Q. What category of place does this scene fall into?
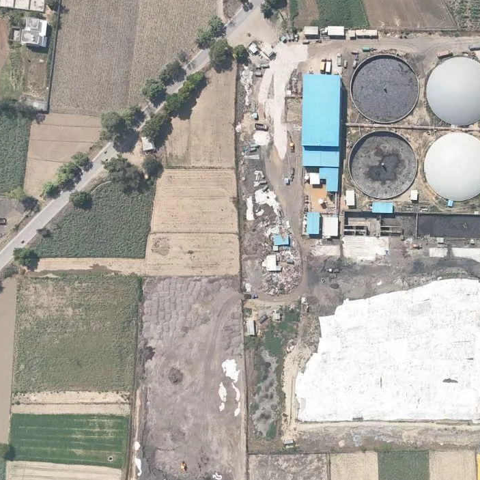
industrial area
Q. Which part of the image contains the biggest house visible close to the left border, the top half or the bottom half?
top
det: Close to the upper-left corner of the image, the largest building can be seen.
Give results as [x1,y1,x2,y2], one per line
[21,17,52,49]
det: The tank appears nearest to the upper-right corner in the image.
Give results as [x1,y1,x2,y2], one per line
[426,55,480,125]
